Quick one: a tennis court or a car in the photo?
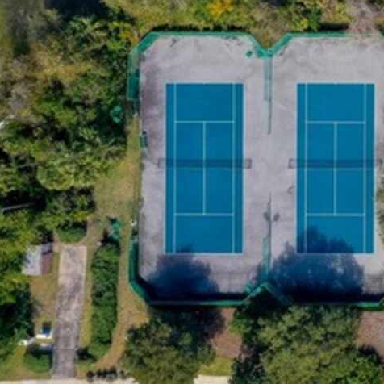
tennis court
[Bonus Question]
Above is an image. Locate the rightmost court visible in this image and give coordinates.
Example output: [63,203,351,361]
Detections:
[272,36,384,299]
